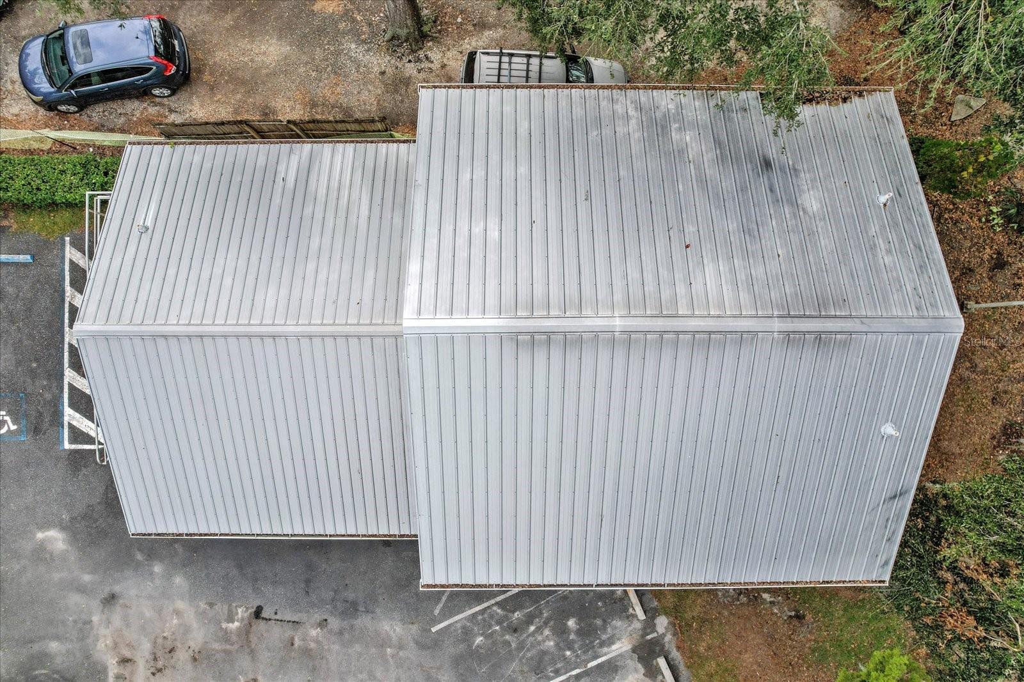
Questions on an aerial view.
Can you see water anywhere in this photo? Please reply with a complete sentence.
No, no water is visible.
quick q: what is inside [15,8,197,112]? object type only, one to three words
car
